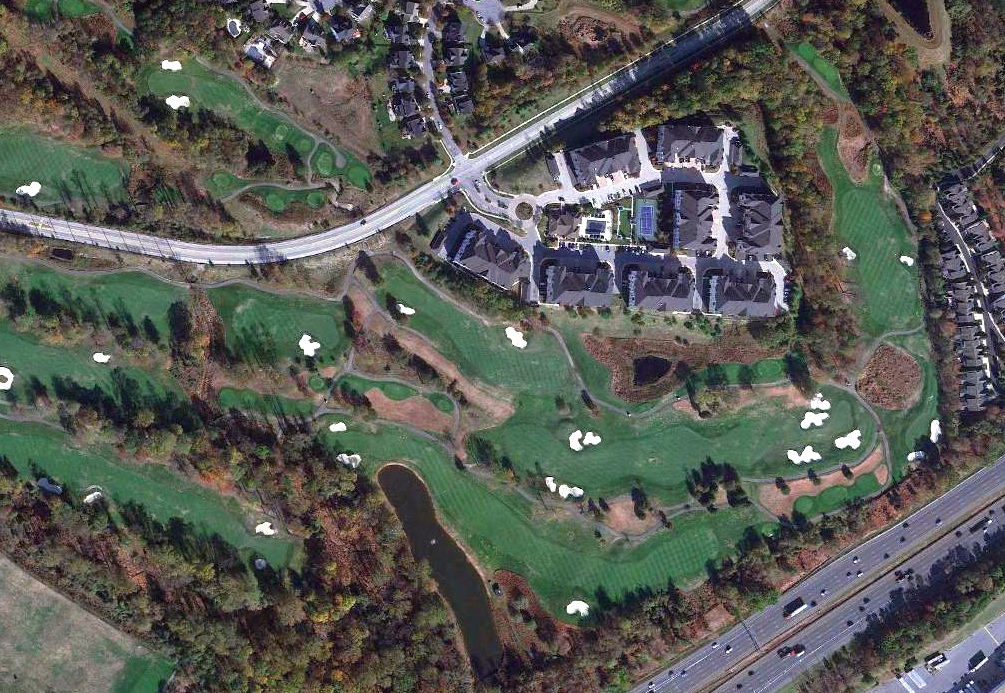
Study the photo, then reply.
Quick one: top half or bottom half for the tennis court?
top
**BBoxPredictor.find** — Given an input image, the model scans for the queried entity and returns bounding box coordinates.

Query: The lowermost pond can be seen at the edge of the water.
[376,463,503,687]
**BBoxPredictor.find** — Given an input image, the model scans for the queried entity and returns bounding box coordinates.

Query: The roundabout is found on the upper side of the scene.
[507,193,542,229]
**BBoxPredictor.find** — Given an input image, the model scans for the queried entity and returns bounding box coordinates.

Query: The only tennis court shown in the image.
[635,198,658,240]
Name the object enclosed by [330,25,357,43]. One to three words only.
house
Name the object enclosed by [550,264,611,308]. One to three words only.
building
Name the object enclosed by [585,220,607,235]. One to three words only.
swimming pool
